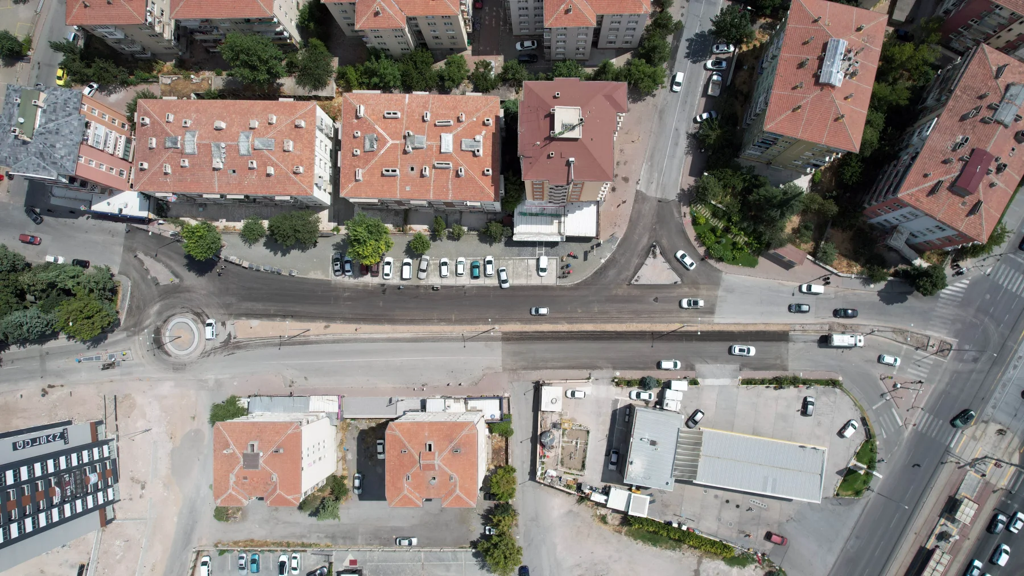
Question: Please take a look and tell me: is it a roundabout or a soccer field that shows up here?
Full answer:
This aerial view contains a roundabout.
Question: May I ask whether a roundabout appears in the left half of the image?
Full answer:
Yes, looking in the left half of the image, one can make out a roundabout.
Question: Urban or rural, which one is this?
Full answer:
This place is urban.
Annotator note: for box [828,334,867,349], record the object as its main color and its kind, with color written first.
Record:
white vehicle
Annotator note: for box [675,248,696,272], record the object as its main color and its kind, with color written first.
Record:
white car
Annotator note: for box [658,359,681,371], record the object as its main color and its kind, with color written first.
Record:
white vehicle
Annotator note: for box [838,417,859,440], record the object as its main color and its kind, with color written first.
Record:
white car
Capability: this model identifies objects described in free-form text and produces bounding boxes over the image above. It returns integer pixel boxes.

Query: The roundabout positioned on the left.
[134,289,227,382]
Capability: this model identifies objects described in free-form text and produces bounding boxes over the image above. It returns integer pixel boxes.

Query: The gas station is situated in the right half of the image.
[620,401,685,492]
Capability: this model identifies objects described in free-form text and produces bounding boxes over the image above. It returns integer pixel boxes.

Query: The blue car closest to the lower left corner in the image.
[248,552,261,574]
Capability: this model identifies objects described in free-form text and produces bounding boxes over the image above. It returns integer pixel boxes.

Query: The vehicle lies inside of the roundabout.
[203,318,218,342]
